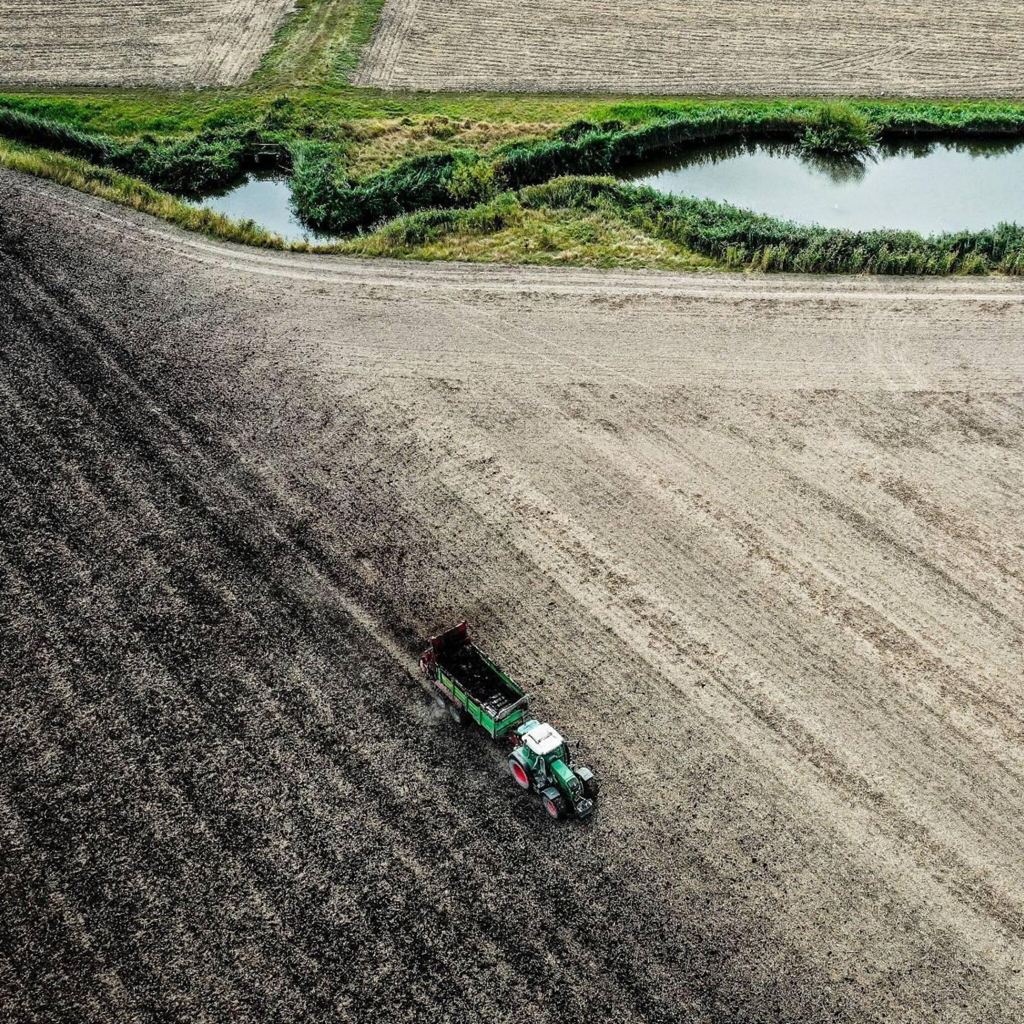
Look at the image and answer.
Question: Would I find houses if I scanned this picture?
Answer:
No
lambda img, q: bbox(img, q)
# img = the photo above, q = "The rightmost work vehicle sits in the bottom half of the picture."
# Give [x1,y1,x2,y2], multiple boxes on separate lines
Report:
[506,717,596,820]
